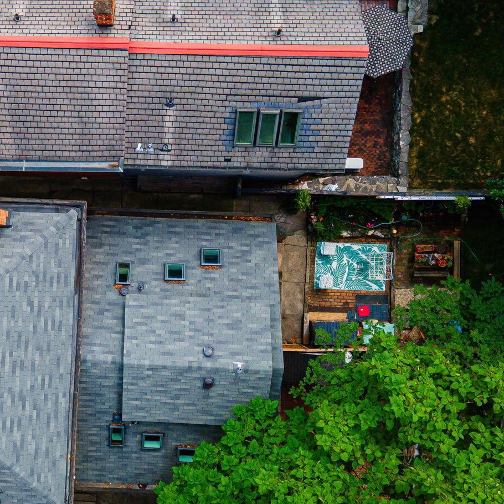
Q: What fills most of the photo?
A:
buildings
